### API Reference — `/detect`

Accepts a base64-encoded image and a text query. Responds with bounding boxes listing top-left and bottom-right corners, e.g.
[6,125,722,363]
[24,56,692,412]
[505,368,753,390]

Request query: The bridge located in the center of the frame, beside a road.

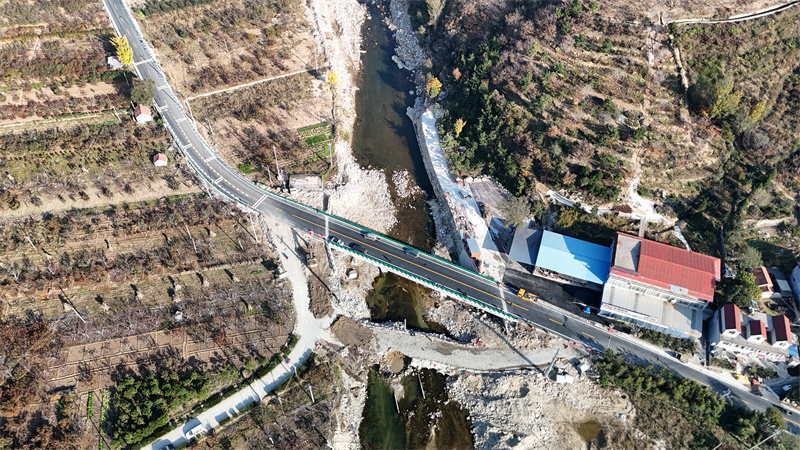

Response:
[313,215,513,316]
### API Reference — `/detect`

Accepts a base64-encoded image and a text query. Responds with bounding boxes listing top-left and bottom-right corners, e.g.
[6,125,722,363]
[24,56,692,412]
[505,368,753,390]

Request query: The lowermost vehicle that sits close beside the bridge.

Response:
[520,288,541,302]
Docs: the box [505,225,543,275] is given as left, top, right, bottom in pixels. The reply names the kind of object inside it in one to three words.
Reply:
shed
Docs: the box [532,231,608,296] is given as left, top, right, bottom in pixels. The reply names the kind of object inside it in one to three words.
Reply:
shed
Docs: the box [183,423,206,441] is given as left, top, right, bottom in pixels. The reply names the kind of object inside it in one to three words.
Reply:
vehicle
